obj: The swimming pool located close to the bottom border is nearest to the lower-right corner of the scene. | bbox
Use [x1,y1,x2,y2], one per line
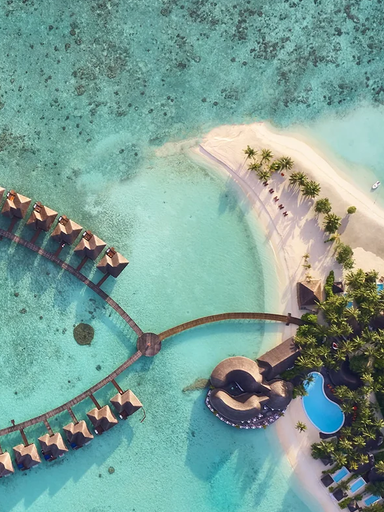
[361,494,384,509]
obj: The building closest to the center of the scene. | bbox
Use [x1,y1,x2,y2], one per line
[95,247,130,278]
